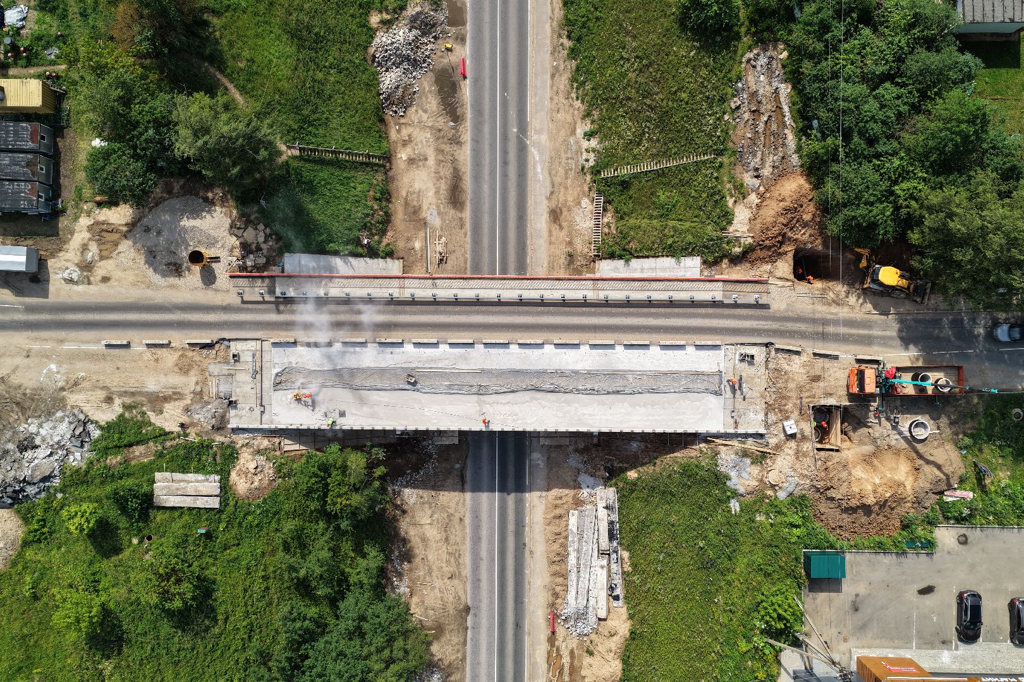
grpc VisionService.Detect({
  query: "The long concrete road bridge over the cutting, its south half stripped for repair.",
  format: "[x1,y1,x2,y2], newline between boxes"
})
[228,273,770,443]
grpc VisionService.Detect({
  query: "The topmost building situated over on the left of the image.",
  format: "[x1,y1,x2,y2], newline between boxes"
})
[0,124,57,158]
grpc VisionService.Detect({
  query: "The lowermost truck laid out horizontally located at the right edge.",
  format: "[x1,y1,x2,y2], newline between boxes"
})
[847,357,999,413]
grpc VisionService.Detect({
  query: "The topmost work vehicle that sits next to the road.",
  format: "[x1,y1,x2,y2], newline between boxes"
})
[842,245,917,304]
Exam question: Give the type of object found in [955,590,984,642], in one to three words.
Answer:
car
